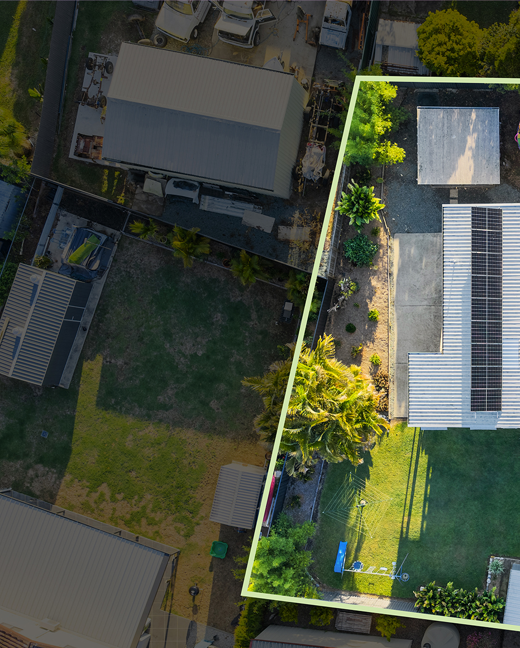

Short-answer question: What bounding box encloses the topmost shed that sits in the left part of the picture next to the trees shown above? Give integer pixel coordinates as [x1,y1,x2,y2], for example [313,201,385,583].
[100,40,309,201]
